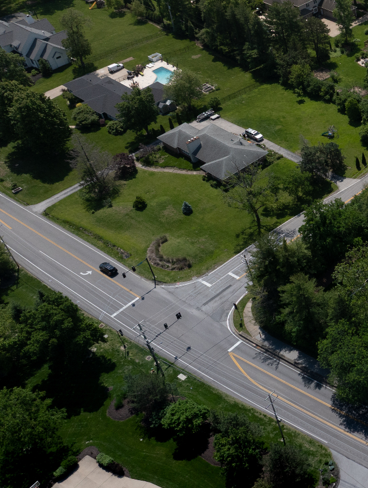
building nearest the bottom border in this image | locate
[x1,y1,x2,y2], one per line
[158,116,264,181]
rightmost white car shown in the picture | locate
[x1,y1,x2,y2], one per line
[244,126,263,140]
